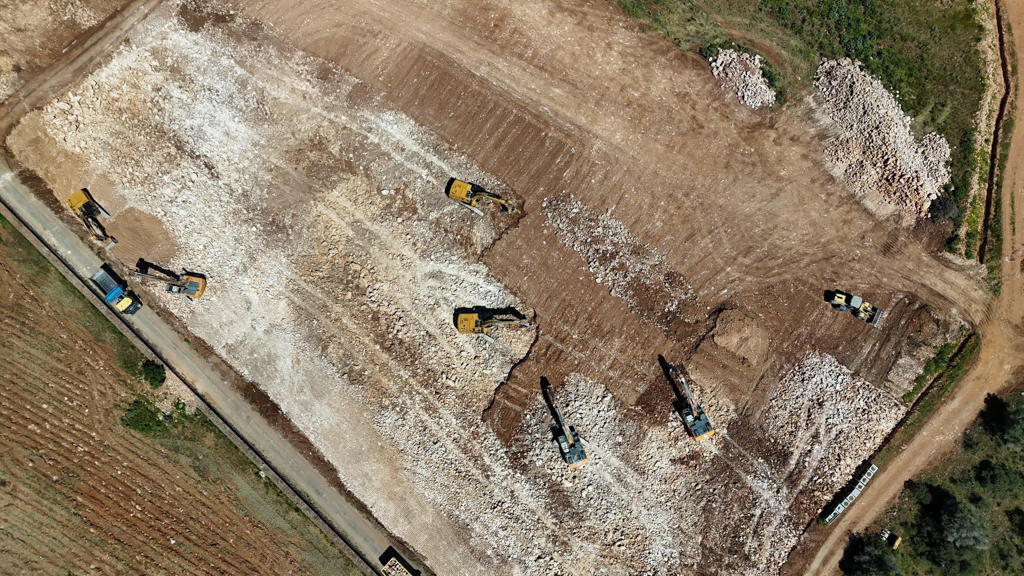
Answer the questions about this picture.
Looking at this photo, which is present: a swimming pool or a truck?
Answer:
truck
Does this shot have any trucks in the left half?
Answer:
Yes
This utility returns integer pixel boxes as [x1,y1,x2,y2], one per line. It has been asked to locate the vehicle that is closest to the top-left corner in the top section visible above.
[67,193,118,250]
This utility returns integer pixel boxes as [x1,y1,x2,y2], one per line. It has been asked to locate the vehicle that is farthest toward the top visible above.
[450,178,521,214]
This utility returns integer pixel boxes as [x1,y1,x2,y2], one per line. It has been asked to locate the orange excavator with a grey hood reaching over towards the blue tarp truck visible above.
[126,266,215,304]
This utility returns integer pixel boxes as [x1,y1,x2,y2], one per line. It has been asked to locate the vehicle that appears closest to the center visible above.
[457,305,533,340]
